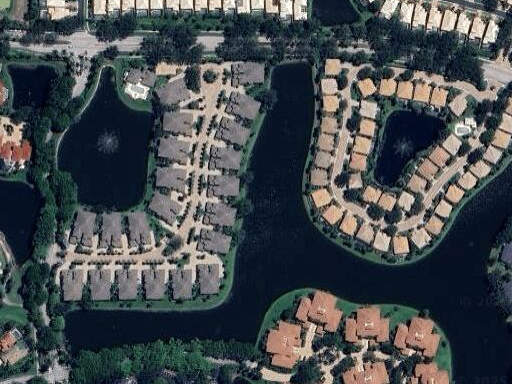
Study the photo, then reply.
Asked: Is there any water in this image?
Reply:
Yes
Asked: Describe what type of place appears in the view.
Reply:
residential area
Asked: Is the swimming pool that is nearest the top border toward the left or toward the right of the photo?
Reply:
left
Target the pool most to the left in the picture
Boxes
[125,80,149,100]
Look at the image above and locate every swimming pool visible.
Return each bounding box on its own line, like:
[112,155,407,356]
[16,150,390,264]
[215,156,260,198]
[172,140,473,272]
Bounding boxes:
[125,80,149,100]
[456,121,472,134]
